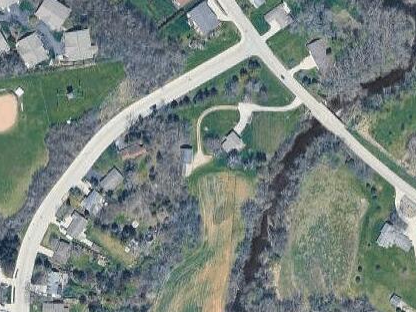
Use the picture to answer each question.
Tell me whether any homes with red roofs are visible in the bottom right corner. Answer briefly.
No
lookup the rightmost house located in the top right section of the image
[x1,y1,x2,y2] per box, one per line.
[307,39,334,72]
